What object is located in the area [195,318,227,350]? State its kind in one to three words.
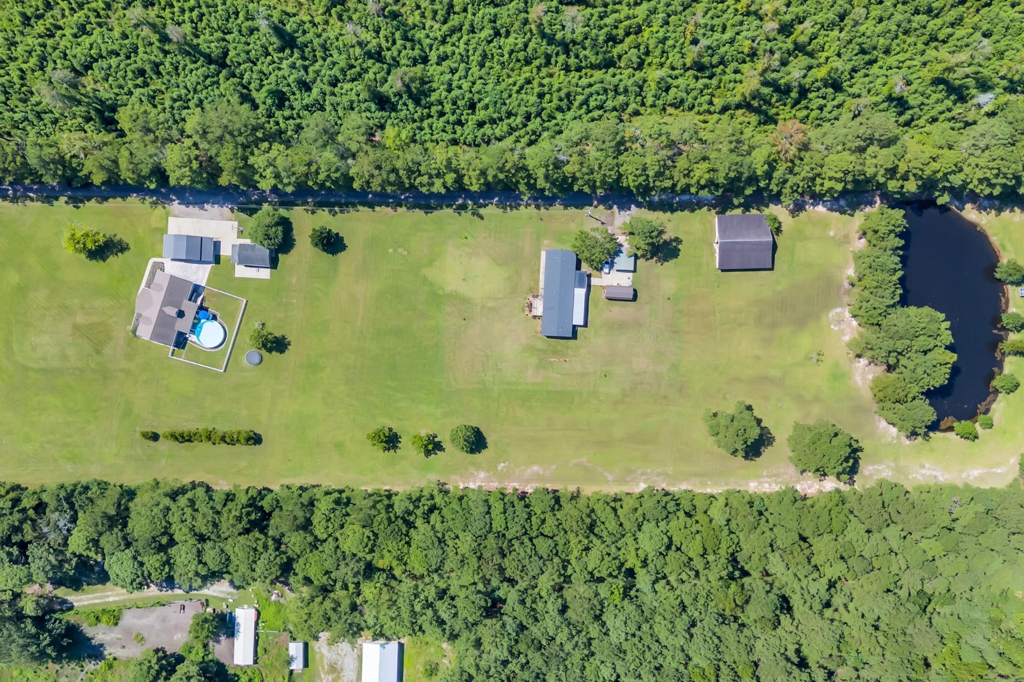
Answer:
swimming pool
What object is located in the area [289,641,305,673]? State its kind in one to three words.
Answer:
shed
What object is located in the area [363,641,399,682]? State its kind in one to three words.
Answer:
barn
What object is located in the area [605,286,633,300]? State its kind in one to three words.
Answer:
shed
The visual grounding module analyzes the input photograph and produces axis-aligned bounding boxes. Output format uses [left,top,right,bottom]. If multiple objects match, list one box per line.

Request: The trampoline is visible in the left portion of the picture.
[245,350,262,366]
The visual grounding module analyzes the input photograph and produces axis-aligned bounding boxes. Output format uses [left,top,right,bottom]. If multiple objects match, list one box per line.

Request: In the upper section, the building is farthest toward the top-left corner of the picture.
[162,234,216,261]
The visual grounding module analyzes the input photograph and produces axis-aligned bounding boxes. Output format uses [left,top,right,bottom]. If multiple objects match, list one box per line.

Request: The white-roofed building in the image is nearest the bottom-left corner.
[234,606,257,666]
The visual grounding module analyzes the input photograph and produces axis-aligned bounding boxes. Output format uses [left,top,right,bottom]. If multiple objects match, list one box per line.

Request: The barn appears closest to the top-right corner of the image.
[713,214,772,269]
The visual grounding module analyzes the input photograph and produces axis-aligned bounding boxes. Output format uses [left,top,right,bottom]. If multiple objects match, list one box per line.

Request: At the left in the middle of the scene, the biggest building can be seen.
[136,271,202,346]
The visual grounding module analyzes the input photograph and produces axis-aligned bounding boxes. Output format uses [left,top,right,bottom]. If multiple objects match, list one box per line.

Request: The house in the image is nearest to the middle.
[532,250,587,337]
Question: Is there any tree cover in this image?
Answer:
Yes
